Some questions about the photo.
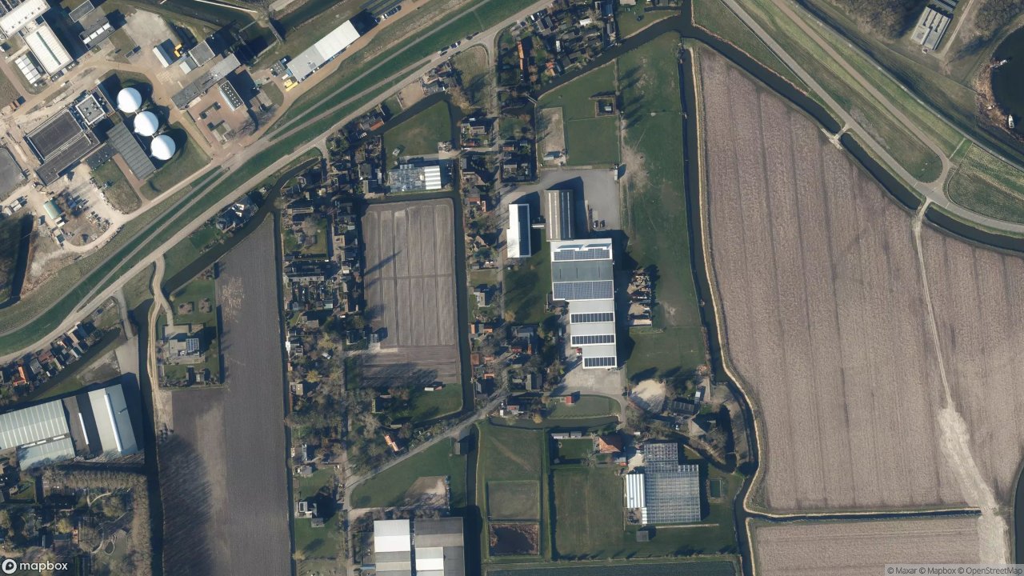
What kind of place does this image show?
residential area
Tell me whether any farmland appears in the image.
Yes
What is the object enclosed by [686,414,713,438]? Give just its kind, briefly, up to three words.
house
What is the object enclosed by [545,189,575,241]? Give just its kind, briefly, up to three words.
barn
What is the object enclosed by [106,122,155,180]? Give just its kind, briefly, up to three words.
shed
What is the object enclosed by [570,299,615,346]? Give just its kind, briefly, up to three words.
building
